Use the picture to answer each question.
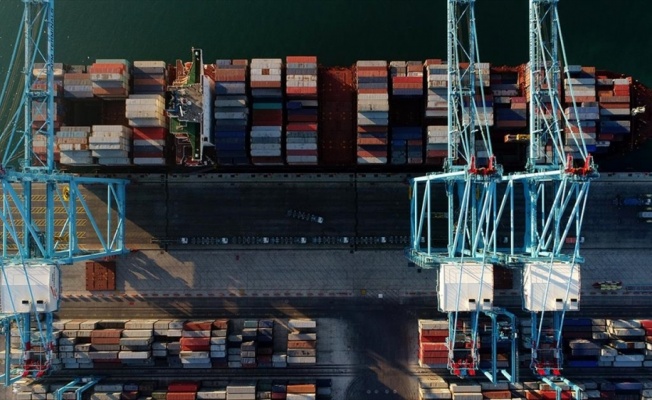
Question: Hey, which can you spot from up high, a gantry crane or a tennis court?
gantry crane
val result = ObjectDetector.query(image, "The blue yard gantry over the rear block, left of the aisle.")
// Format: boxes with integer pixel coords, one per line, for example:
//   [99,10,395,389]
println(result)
[53,370,104,400]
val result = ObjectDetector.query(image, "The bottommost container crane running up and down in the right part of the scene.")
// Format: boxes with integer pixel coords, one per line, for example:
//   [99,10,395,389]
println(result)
[478,299,518,385]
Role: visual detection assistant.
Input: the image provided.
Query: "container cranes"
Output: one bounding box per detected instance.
[401,0,504,375]
[53,370,104,400]
[0,0,135,375]
[475,0,604,375]
[533,373,582,400]
[478,299,518,385]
